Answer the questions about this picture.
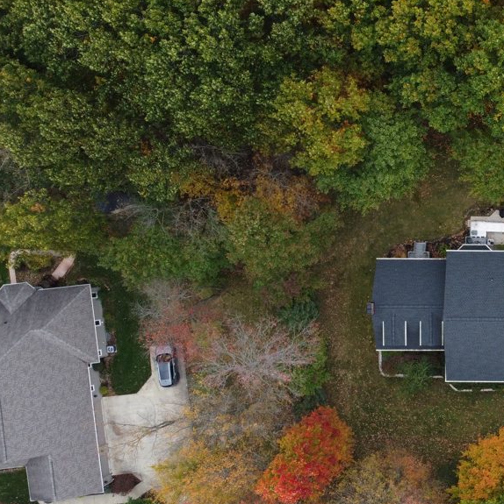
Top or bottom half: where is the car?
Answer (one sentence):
The car sits in the bottom half of the picture.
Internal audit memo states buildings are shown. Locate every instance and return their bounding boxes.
[366,244,504,384]
[0,281,113,502]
